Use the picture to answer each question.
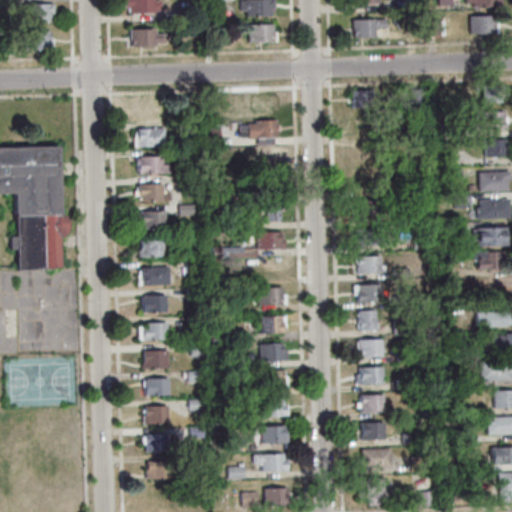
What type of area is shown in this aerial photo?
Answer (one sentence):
This image shows a residential area.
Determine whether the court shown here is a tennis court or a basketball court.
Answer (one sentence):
The court in the image is a basketball court.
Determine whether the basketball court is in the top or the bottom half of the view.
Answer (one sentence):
Seen from above, the basketball court lies in the bottom half of the view.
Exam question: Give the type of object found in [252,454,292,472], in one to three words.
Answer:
house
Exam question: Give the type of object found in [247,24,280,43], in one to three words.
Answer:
house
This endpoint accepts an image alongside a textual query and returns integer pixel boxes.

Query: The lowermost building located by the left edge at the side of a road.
[0,146,72,268]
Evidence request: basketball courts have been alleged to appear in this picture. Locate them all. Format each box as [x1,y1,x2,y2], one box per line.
[4,357,74,405]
